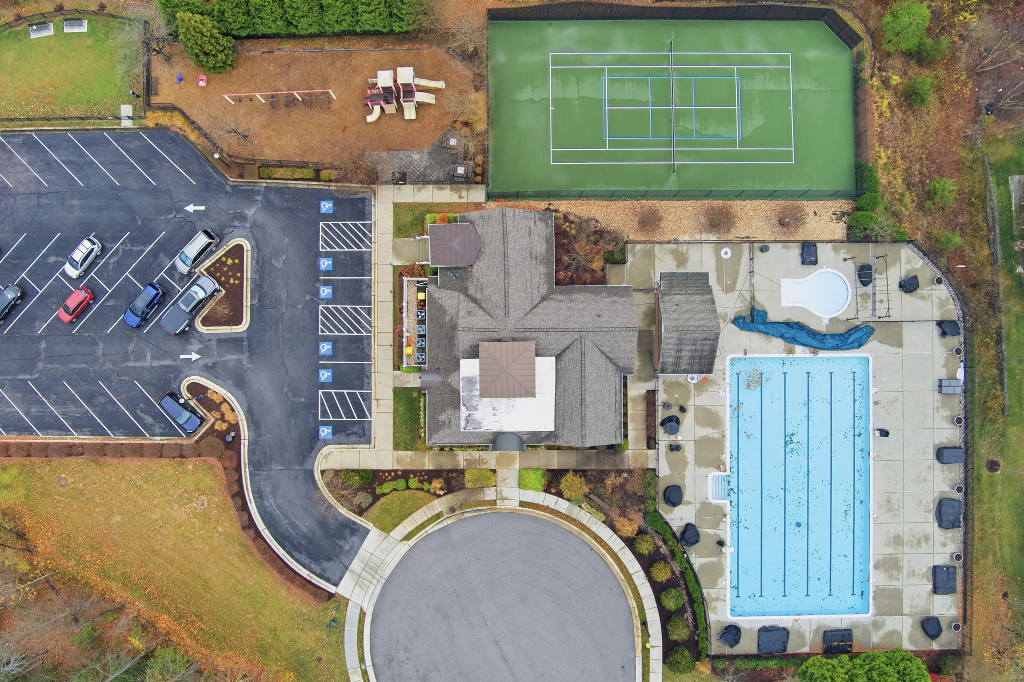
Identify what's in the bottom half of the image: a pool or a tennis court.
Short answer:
pool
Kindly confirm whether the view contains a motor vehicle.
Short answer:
Yes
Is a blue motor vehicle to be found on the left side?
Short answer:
Yes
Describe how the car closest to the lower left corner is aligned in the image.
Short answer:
diagonally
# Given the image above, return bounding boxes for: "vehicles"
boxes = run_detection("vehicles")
[66,236,103,278]
[0,283,25,326]
[158,278,217,334]
[159,389,203,434]
[126,283,166,326]
[175,228,220,275]
[59,286,96,324]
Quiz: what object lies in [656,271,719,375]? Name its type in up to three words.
building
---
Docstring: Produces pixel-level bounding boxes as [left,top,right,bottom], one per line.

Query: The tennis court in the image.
[488,20,857,193]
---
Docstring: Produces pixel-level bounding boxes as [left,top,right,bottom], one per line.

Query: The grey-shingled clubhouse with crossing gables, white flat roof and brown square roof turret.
[419,206,639,453]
